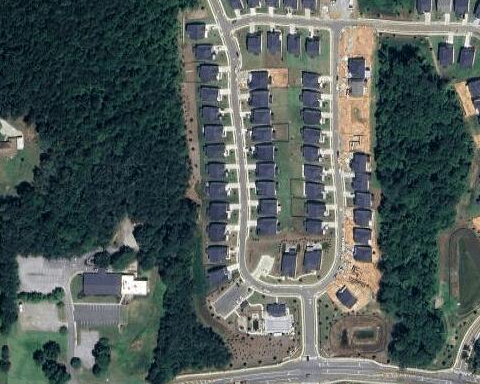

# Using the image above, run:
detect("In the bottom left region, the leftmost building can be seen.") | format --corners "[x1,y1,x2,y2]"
[82,269,123,296]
